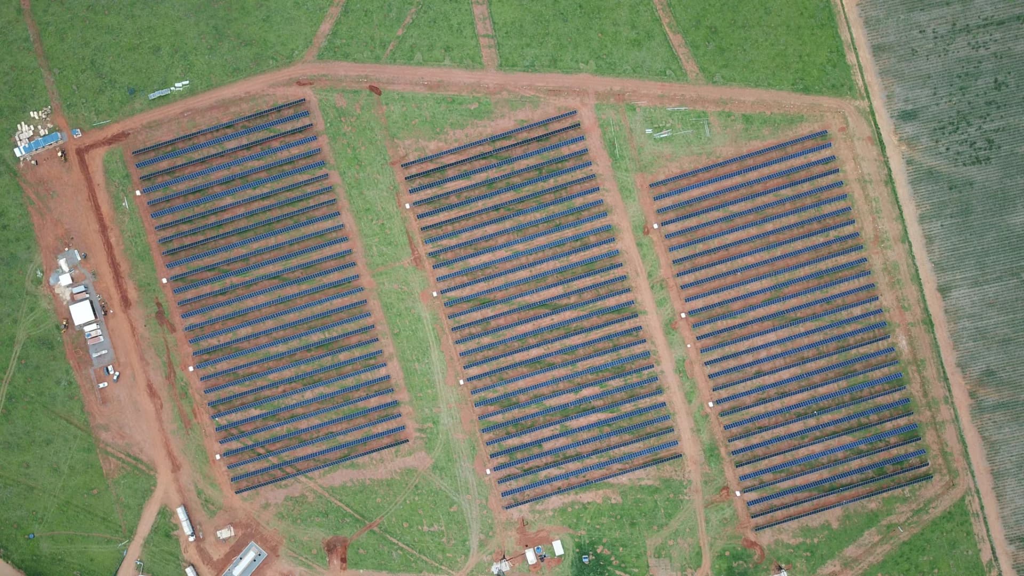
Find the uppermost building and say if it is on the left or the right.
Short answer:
left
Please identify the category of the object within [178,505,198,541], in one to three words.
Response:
vehicle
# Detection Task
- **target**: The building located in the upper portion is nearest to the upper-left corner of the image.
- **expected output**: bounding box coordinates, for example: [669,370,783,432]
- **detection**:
[14,132,64,157]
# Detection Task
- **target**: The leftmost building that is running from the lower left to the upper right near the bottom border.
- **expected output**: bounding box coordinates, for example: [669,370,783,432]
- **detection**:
[223,539,270,576]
